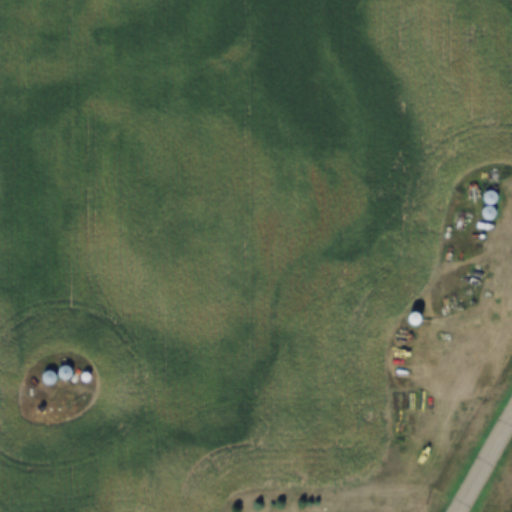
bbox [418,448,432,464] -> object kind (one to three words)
work vehicle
